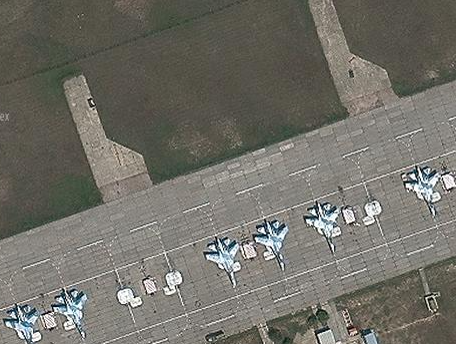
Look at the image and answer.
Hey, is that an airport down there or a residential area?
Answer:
airport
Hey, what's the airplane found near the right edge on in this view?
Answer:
apron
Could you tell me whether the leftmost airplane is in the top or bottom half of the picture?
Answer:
bottom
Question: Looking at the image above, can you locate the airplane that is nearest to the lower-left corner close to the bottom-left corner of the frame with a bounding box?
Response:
[3,304,40,344]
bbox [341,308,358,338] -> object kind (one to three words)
vehicle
